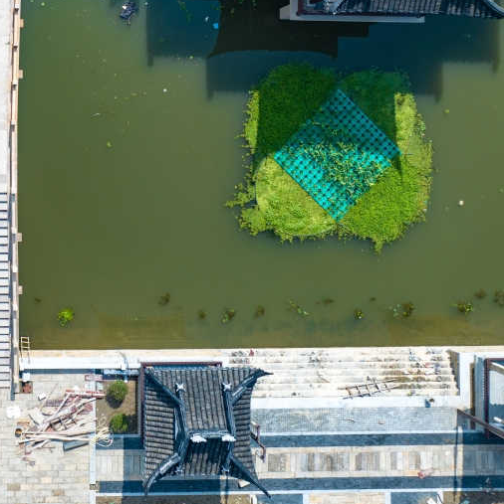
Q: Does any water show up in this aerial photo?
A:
Yes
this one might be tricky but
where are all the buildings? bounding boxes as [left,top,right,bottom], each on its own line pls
[467,357,504,442]
[287,0,504,27]
[137,355,274,501]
